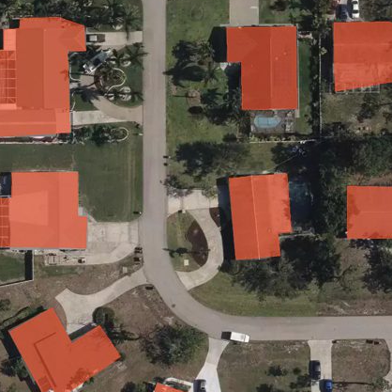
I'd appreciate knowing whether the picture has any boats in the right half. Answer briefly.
No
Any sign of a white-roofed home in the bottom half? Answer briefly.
No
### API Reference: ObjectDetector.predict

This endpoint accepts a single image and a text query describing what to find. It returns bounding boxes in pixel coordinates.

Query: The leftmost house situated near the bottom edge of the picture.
[8,309,120,392]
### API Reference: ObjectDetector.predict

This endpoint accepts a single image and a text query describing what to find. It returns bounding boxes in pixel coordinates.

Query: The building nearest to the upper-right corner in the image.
[334,22,392,91]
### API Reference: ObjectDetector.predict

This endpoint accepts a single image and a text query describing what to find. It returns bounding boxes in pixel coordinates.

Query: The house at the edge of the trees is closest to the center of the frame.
[229,174,293,260]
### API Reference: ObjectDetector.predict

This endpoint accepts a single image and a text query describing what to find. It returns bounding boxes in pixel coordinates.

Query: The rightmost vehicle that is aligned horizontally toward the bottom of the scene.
[229,331,253,344]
